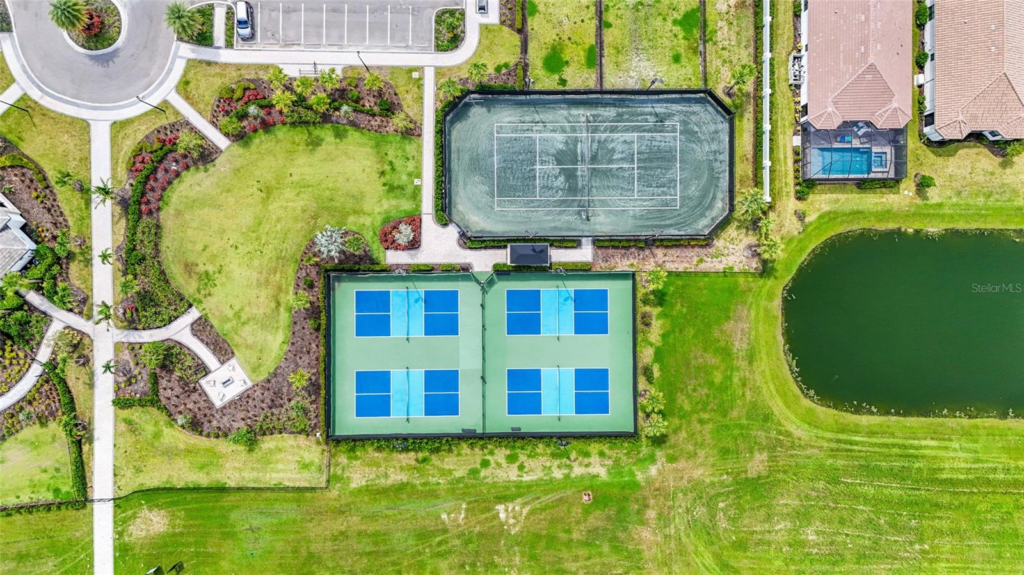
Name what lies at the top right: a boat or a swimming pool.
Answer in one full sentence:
Visible at the top right is a swimming pool.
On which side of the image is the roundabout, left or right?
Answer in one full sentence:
It is on the left.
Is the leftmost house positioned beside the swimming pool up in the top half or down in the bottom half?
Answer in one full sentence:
The top half of the photo is where the leftmost house positioned beside the swimming pool is.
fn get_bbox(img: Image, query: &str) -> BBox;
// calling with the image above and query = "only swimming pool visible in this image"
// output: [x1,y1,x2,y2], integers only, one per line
[801,122,894,177]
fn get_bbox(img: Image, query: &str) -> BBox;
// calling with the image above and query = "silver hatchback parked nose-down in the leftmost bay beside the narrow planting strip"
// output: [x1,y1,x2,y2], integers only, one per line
[234,1,253,38]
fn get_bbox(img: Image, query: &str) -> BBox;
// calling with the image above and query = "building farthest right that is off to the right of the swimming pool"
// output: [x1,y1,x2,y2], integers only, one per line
[924,0,1024,140]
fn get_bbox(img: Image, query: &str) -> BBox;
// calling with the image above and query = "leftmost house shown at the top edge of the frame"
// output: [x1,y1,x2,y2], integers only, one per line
[801,0,912,130]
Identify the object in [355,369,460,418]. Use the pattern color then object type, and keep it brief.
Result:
blue sports court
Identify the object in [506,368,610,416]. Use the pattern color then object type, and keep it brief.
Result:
blue sports court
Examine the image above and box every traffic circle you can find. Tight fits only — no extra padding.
[5,0,180,110]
